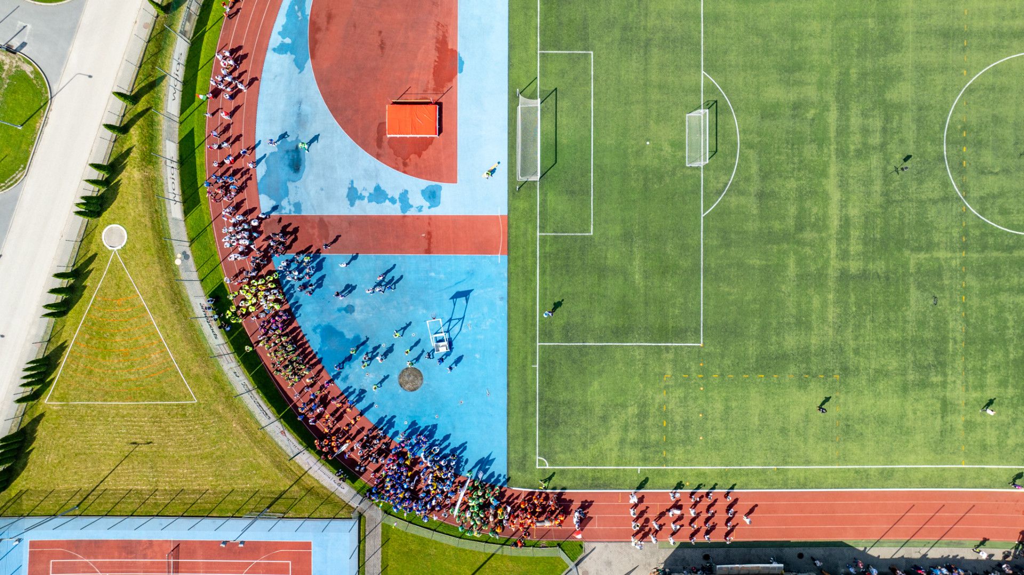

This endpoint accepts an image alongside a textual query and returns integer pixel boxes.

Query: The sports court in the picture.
[0,519,357,575]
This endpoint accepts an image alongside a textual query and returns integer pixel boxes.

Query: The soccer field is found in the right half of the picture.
[507,0,1024,489]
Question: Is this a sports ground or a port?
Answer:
sports ground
